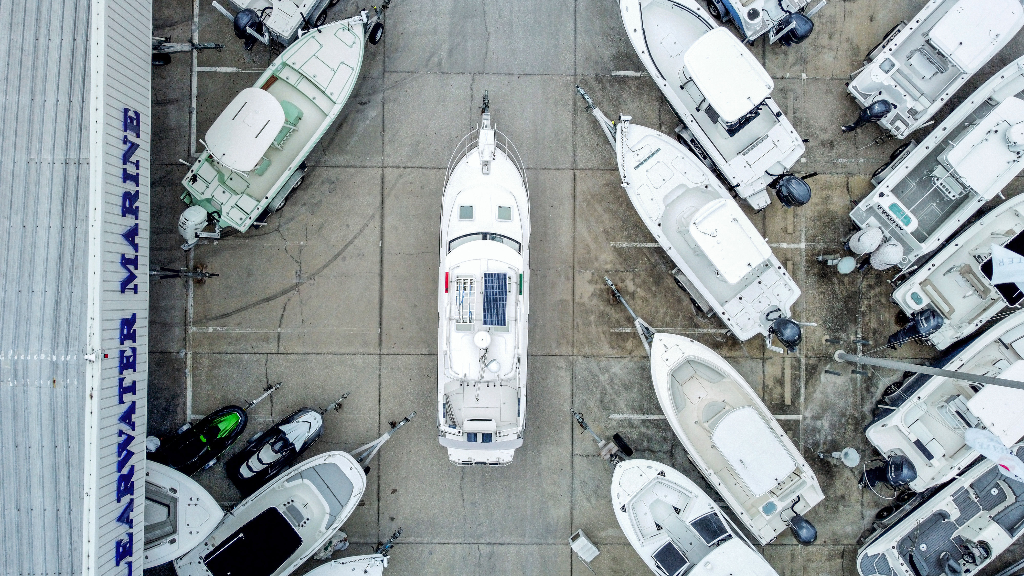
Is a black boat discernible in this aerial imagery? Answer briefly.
Yes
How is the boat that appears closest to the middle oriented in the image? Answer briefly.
from top to bottom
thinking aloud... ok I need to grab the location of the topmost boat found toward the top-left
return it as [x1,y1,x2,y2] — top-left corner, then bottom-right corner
[230,0,325,58]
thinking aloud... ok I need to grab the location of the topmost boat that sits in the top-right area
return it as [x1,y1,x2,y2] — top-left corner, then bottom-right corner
[720,0,816,70]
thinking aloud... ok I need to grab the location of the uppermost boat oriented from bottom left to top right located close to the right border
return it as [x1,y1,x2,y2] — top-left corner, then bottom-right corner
[834,0,1024,149]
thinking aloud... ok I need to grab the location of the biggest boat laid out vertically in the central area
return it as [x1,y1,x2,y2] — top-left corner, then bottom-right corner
[436,113,531,466]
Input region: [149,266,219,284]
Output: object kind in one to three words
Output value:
trailer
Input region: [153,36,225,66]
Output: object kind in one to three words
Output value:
trailer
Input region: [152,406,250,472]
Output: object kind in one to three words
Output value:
boat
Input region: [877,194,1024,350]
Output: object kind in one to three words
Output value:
boat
